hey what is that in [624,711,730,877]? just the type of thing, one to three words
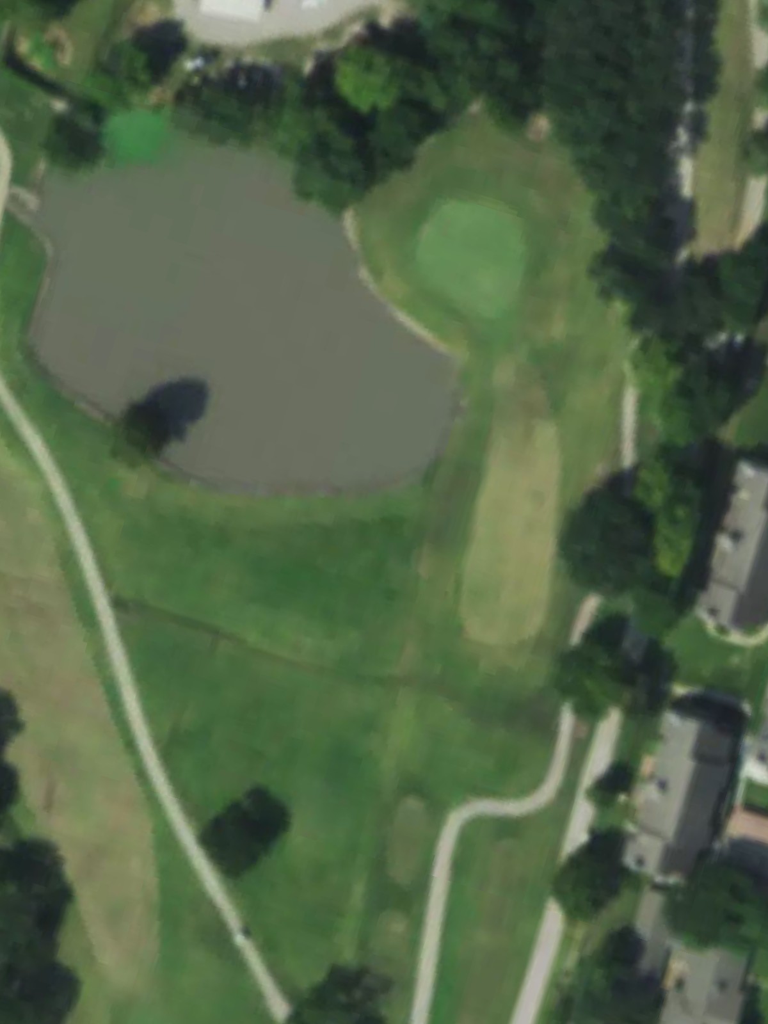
house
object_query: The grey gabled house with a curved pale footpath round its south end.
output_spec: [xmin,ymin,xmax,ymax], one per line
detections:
[693,459,768,634]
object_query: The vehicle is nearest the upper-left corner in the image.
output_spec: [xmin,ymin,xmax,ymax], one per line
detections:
[182,53,204,70]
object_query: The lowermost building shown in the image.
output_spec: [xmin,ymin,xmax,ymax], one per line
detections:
[653,935,748,1024]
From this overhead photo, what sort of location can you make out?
golf course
